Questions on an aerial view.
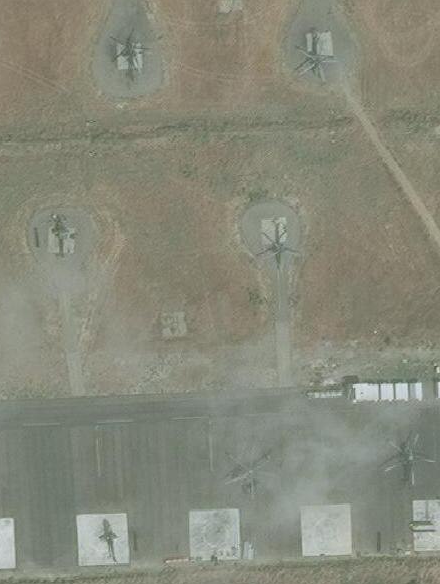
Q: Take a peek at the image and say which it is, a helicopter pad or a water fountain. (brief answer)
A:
helicopter pad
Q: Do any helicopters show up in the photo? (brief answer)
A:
Yes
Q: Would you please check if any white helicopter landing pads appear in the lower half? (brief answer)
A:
Yes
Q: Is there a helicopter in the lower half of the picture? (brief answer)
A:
Yes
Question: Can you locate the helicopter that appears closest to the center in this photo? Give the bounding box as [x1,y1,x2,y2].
[252,216,303,274]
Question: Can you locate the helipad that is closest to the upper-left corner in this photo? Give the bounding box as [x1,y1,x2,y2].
[117,43,143,70]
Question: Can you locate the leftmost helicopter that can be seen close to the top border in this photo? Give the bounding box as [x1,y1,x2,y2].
[107,24,156,85]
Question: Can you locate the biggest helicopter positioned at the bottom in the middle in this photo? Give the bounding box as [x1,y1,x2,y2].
[226,436,277,498]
